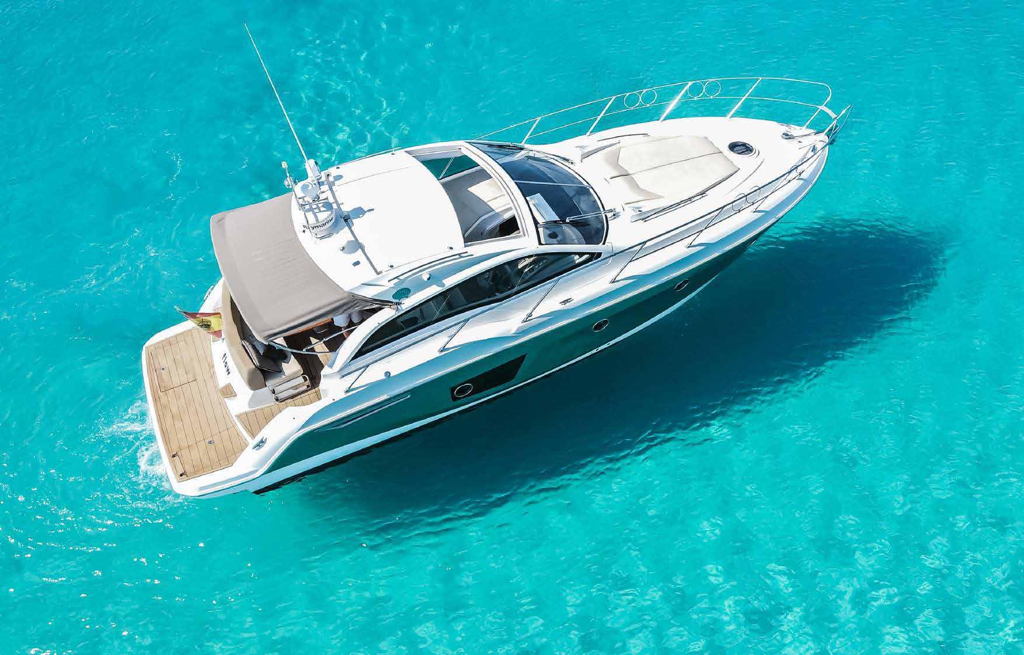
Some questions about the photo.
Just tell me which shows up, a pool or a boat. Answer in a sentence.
I can see a boat in this picture.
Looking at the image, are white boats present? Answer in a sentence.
Yes, a white boat can be made out from above.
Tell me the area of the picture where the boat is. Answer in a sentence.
Look in the center portion of the view to spot the boat.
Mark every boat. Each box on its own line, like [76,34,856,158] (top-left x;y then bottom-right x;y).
[142,24,856,502]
